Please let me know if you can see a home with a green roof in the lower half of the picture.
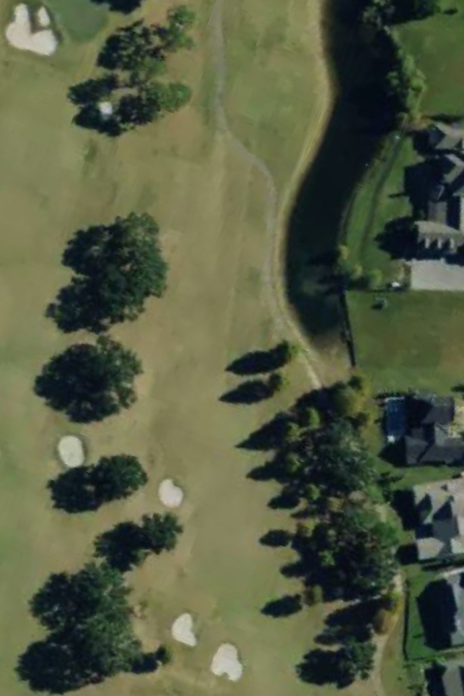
No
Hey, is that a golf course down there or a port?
golf course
